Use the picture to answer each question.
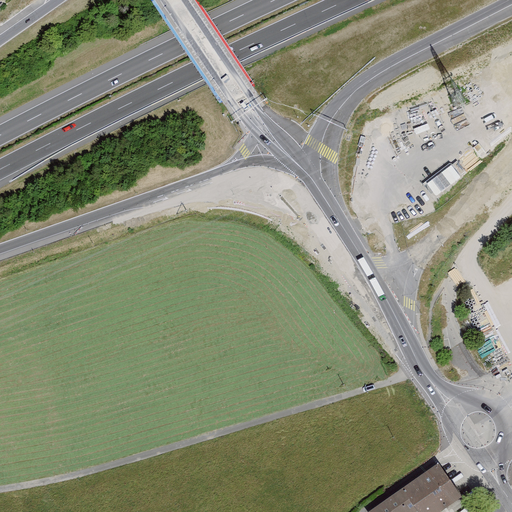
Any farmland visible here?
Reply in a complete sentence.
Yes, some farmland is visible.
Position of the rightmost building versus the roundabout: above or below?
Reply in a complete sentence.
Looking at the photo, you'll find the rightmost building above the roundabout.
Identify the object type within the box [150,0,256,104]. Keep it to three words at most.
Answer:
overpass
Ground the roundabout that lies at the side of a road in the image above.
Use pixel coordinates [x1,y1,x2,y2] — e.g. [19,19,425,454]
[418,371,512,512]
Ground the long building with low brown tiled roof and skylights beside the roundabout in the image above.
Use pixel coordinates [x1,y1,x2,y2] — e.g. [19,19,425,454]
[368,462,460,512]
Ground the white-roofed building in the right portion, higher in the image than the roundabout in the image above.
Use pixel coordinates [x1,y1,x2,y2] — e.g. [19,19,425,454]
[424,162,464,198]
